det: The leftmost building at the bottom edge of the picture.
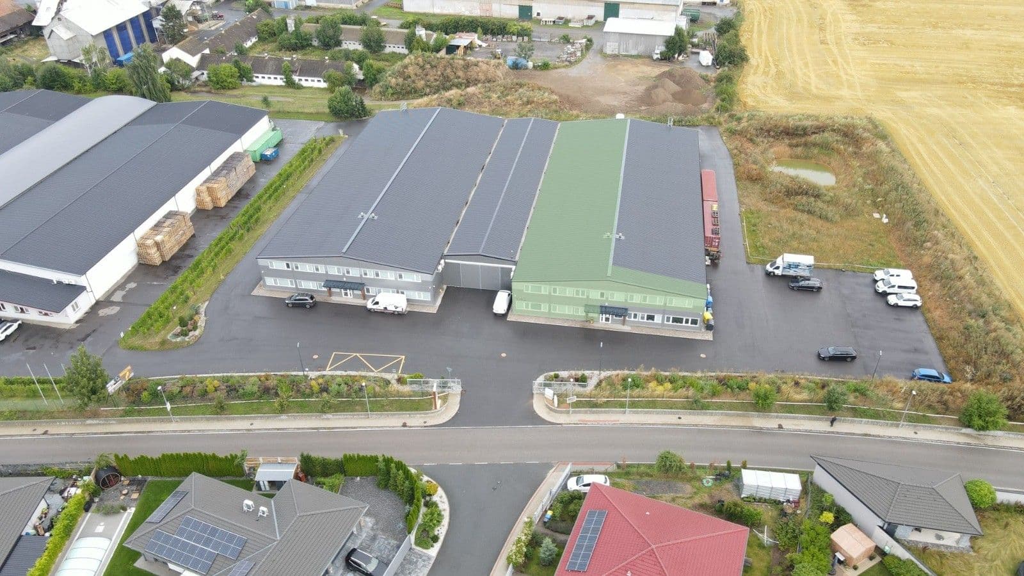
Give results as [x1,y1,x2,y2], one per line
[0,476,56,573]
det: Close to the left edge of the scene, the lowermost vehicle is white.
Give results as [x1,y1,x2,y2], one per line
[0,320,24,343]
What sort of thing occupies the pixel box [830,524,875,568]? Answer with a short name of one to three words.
shed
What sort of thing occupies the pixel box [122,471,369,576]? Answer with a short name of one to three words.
house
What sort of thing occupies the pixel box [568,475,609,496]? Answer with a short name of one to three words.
car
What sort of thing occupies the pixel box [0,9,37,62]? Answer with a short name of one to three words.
barn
